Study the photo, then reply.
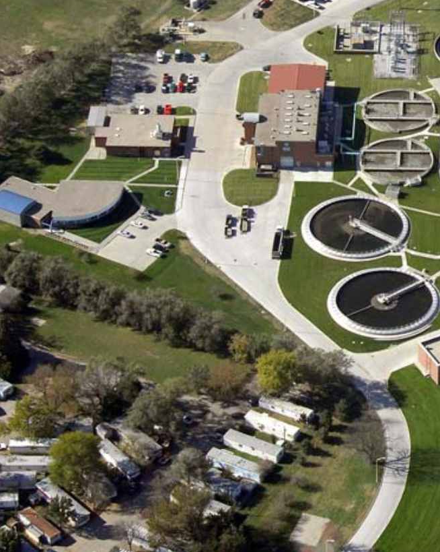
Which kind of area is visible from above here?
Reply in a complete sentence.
This looks like a residential area.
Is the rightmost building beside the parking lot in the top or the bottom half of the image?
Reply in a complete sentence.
You can find the rightmost building beside the parking lot in the top half.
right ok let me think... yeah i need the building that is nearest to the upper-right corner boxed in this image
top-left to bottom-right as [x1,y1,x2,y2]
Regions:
[254,64,334,178]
